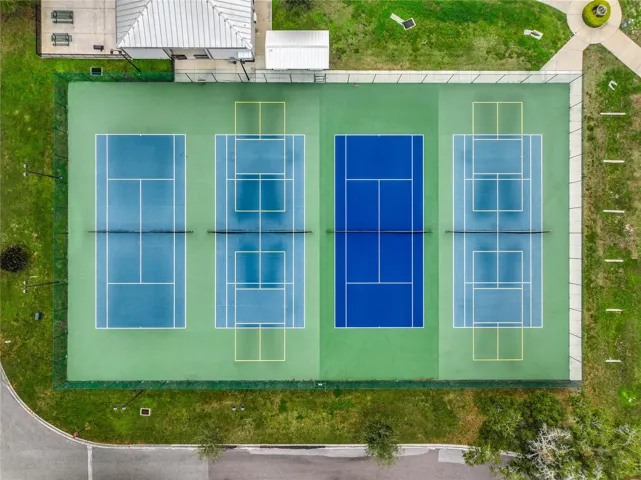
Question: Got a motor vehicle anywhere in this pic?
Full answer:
No, there is no motor vehicle in the image.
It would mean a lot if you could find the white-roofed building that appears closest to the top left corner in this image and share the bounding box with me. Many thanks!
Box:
[116,0,257,61]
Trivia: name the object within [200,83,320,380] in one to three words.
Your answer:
tennis court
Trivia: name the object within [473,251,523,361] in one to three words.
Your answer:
sports court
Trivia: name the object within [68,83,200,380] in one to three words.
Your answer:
tennis court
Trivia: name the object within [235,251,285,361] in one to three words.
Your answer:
sports court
